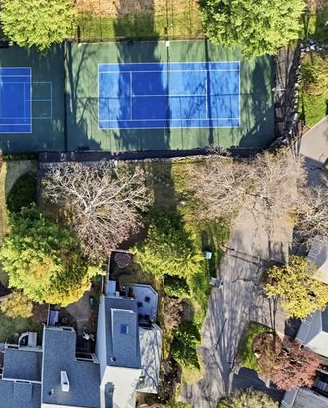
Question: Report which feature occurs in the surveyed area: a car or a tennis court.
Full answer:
The image shows a tennis court.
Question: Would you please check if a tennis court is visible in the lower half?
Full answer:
No, there is no tennis court in the lower half.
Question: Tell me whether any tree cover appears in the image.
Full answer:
Yes, tree cover can be seen from above here.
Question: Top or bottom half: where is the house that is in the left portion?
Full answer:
It is in the bottom half that the house that is in the left portion appears.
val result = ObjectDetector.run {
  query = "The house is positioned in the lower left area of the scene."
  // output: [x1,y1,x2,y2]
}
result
[0,278,162,408]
